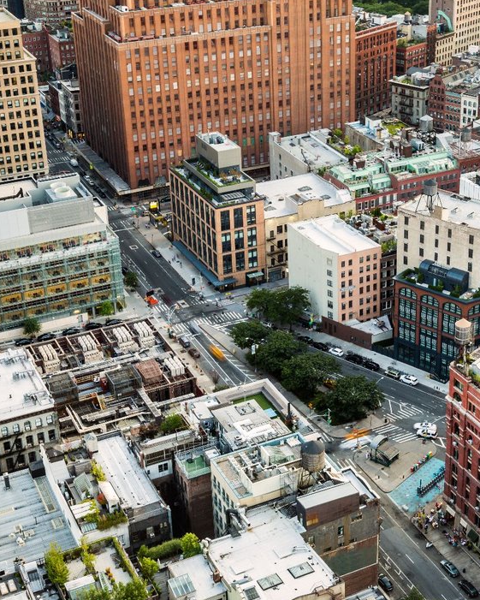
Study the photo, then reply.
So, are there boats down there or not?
No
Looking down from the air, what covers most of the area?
buildings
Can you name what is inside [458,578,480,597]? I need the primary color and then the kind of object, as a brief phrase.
black car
